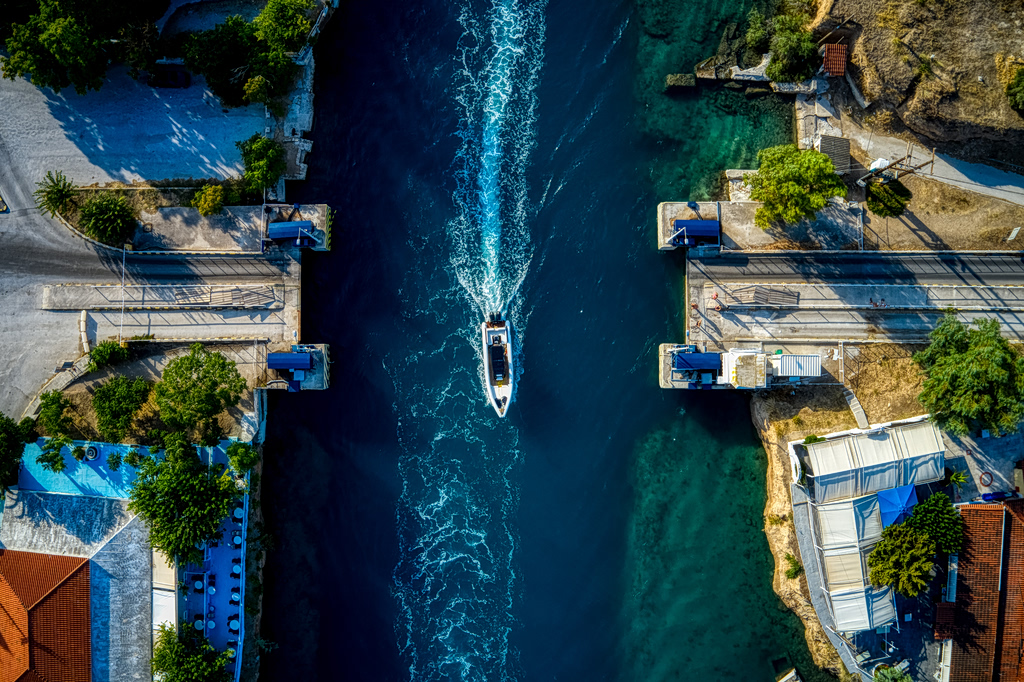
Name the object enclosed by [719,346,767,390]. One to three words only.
building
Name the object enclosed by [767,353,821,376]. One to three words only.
building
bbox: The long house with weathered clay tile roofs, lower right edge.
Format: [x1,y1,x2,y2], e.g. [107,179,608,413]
[936,500,1024,682]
